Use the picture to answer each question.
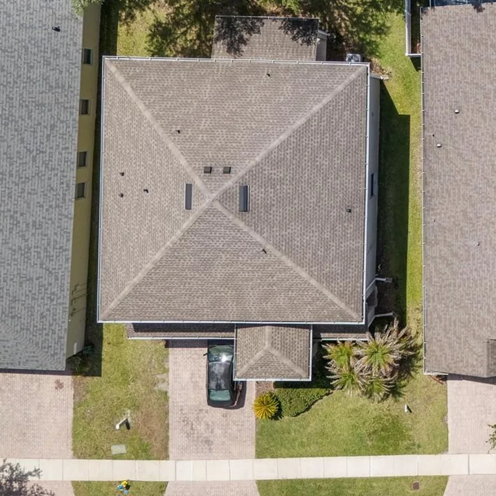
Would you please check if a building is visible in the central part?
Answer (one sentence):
Yes, the scene does show a building in the central part.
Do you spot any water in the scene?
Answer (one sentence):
No, the scene doesn't show any water.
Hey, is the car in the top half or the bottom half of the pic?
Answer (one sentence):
You can find the car in the bottom half.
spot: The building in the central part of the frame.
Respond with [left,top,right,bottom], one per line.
[97,14,409,379]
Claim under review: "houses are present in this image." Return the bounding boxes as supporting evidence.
[97,14,409,379]
[0,0,104,372]
[420,2,496,383]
